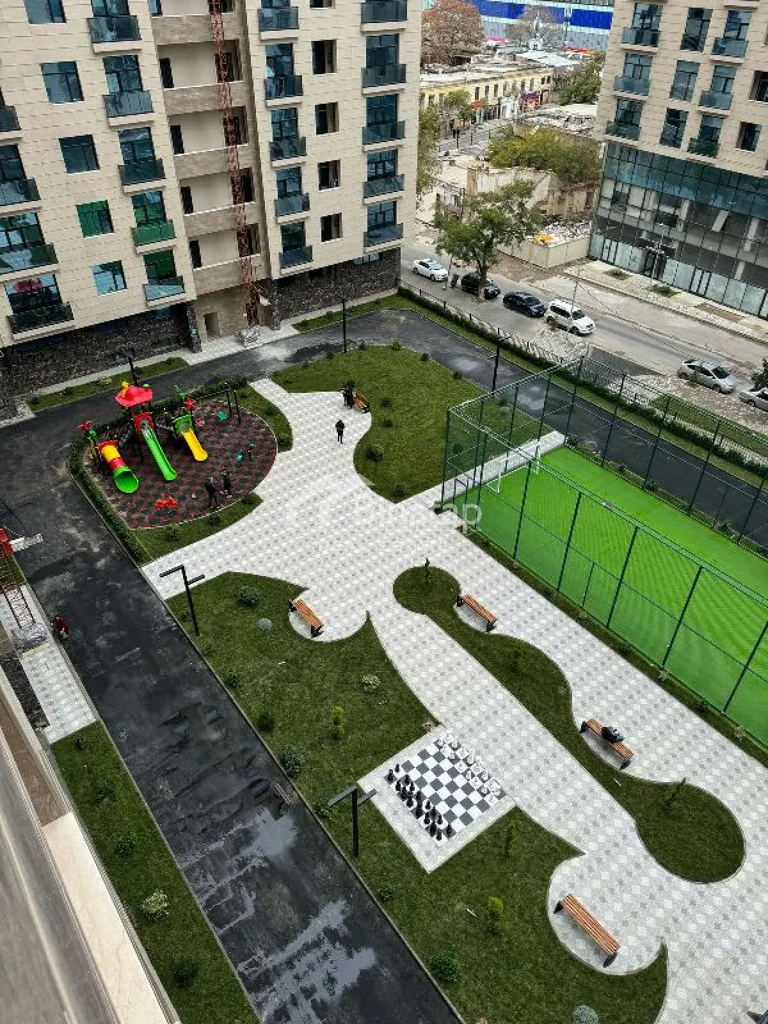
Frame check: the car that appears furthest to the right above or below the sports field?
above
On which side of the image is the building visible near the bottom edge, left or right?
left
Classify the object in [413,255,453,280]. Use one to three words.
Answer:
car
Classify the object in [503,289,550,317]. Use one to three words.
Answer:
car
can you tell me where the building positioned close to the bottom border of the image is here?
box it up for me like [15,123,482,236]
[0,630,176,1024]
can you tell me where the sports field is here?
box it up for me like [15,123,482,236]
[448,443,768,738]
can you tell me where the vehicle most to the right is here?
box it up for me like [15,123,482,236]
[741,384,768,413]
